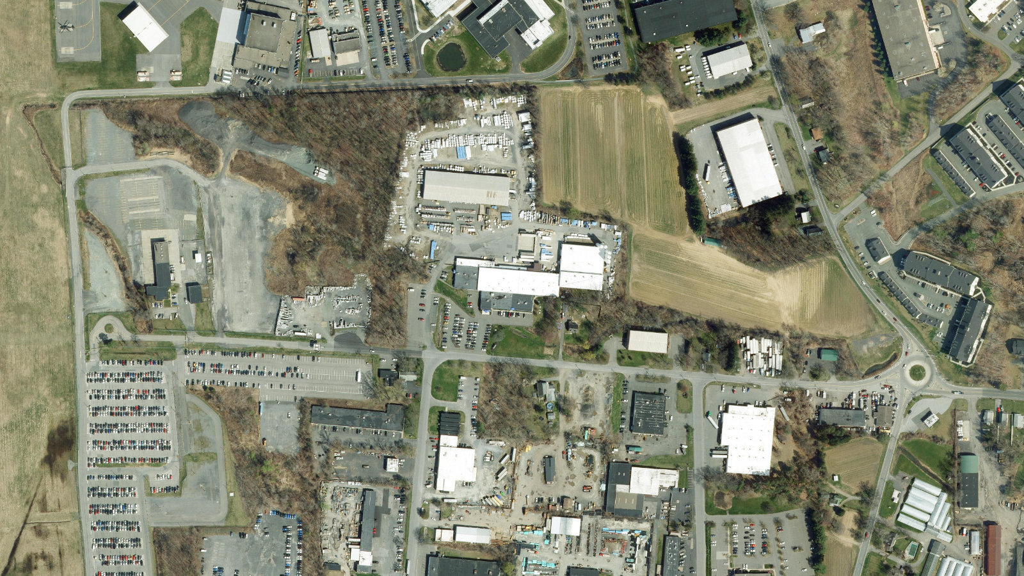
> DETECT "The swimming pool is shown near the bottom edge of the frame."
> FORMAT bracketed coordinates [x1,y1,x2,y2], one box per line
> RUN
[905,542,919,560]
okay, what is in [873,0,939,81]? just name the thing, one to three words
building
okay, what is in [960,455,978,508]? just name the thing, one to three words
barn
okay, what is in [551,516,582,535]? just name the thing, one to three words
shed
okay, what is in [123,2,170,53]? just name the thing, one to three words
hangar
